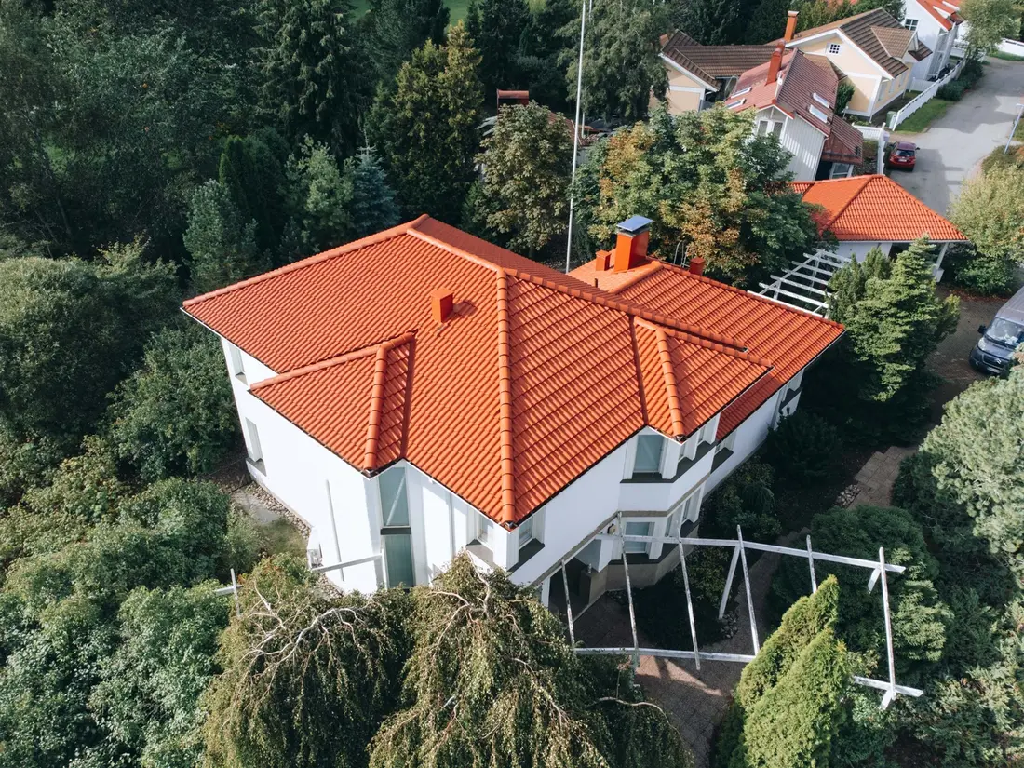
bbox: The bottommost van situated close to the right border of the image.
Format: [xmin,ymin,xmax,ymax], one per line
[973,284,1024,383]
